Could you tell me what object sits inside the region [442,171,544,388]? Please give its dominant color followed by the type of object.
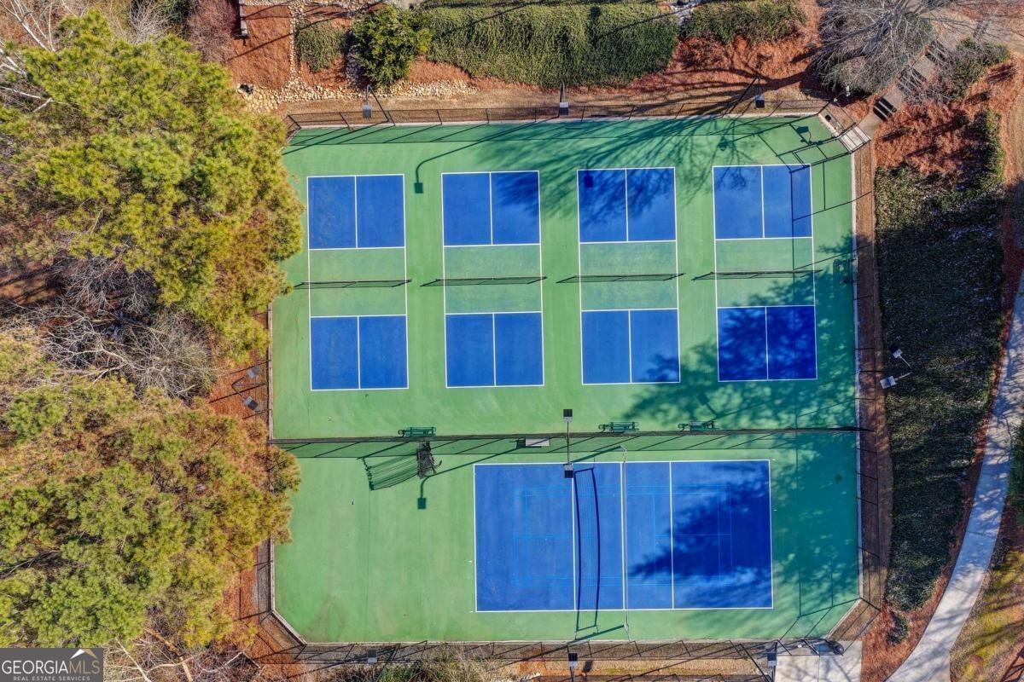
blue sports court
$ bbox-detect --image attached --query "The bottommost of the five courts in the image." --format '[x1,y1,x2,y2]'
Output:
[474,460,773,613]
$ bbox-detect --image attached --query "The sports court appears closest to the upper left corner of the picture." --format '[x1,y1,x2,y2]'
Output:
[307,174,408,391]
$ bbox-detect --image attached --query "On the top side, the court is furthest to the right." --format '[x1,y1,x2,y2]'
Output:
[713,163,817,382]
